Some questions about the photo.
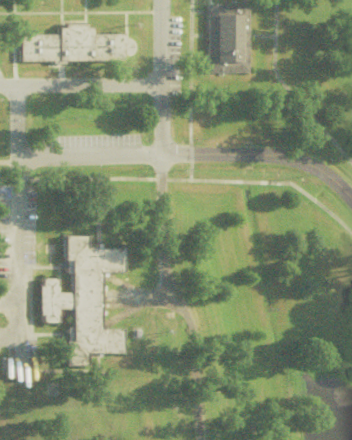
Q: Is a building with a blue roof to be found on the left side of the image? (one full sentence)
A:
No, no building with a blue roof can be made out on the left side of the image.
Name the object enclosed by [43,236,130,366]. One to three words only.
building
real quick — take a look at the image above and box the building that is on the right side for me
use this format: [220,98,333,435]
[212,8,255,74]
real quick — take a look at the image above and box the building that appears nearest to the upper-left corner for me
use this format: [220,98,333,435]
[23,23,139,62]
